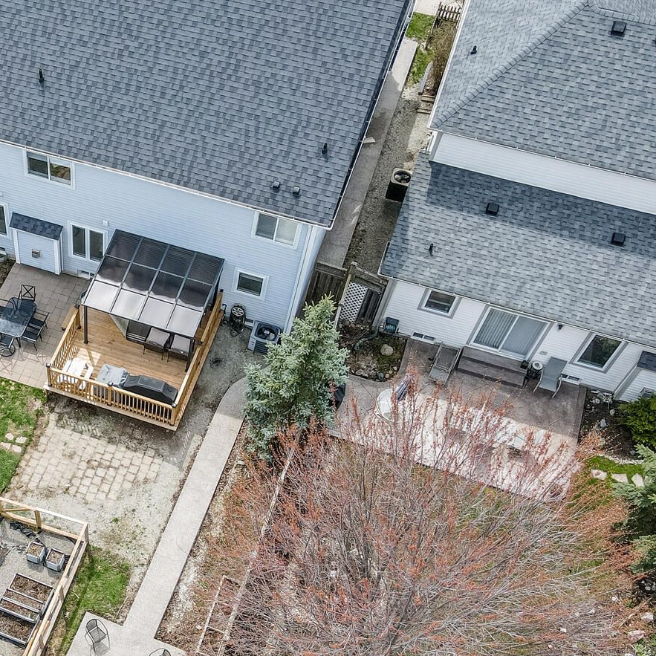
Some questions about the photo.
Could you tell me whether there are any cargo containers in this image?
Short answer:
No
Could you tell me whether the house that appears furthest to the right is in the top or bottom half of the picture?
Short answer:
top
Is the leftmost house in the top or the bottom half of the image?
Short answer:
top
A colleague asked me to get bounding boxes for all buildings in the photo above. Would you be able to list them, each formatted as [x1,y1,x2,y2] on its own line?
[374,0,656,412]
[0,0,410,338]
